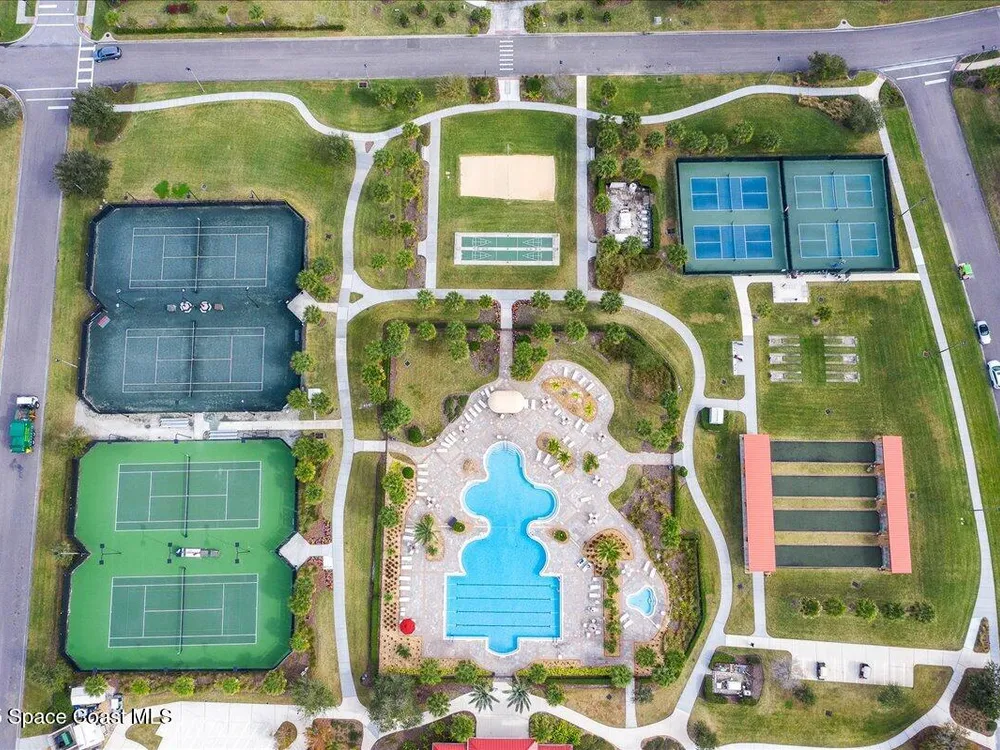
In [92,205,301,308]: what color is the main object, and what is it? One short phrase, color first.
blue tennis court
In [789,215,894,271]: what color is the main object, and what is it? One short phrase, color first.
blue sports court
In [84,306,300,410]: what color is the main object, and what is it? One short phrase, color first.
blue tennis court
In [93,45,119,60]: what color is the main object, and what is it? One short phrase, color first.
blue car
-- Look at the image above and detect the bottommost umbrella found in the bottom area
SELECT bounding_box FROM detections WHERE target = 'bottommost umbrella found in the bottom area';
[399,617,416,635]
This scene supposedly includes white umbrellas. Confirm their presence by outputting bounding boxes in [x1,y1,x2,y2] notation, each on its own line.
[181,302,192,313]
[200,302,212,312]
